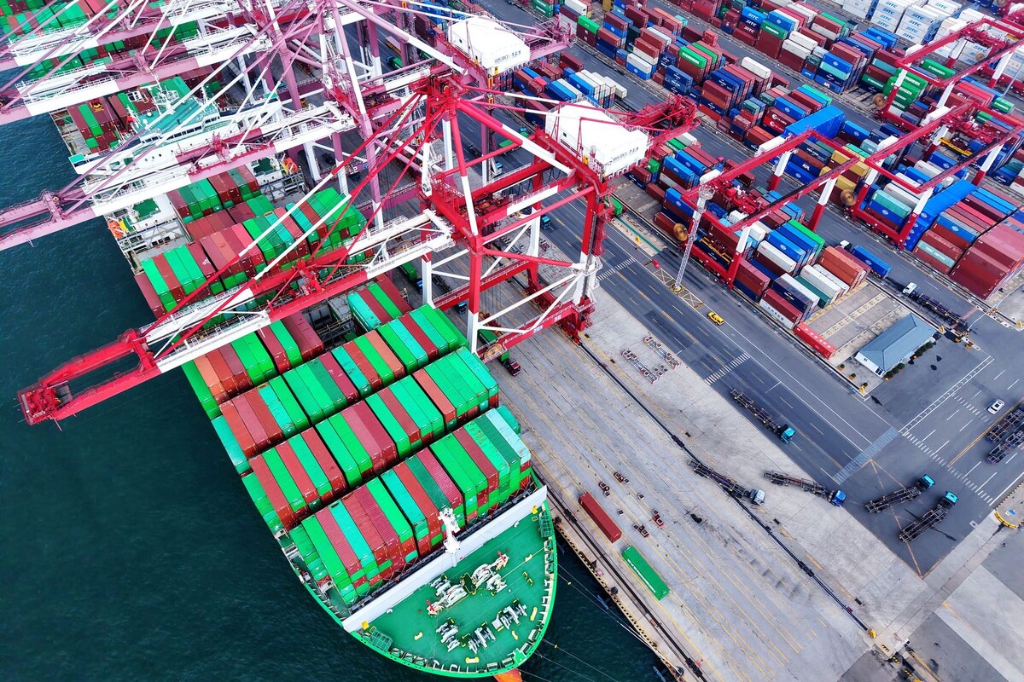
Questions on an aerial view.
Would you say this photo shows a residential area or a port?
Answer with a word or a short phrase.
port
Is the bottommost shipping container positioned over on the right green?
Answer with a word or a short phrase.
Yes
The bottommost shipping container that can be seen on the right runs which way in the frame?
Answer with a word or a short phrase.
diagonally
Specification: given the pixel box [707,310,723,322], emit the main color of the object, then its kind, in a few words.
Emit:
yellow vehicle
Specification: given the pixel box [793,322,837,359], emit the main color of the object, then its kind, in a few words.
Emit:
red shipping container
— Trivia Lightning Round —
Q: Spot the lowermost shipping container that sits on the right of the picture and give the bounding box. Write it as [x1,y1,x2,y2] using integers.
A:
[622,547,670,602]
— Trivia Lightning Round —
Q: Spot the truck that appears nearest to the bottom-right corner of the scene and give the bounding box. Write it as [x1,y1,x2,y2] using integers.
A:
[906,491,963,537]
